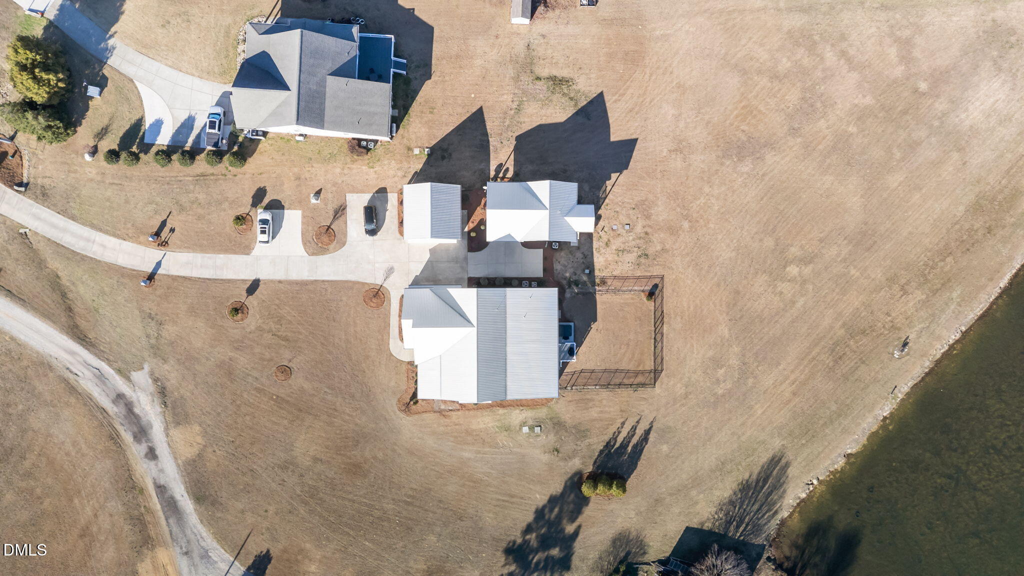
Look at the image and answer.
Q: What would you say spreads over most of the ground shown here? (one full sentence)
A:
Most of the picture is covered by grass.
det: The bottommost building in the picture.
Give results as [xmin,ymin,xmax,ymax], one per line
[401,284,576,403]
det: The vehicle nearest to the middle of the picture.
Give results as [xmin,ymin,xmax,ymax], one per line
[363,206,379,237]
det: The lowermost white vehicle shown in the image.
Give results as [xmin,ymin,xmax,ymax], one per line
[257,211,275,244]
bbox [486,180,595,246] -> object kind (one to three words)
house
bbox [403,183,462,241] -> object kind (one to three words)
building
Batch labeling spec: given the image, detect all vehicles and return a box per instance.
[206,107,225,149]
[363,206,379,237]
[257,211,275,244]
